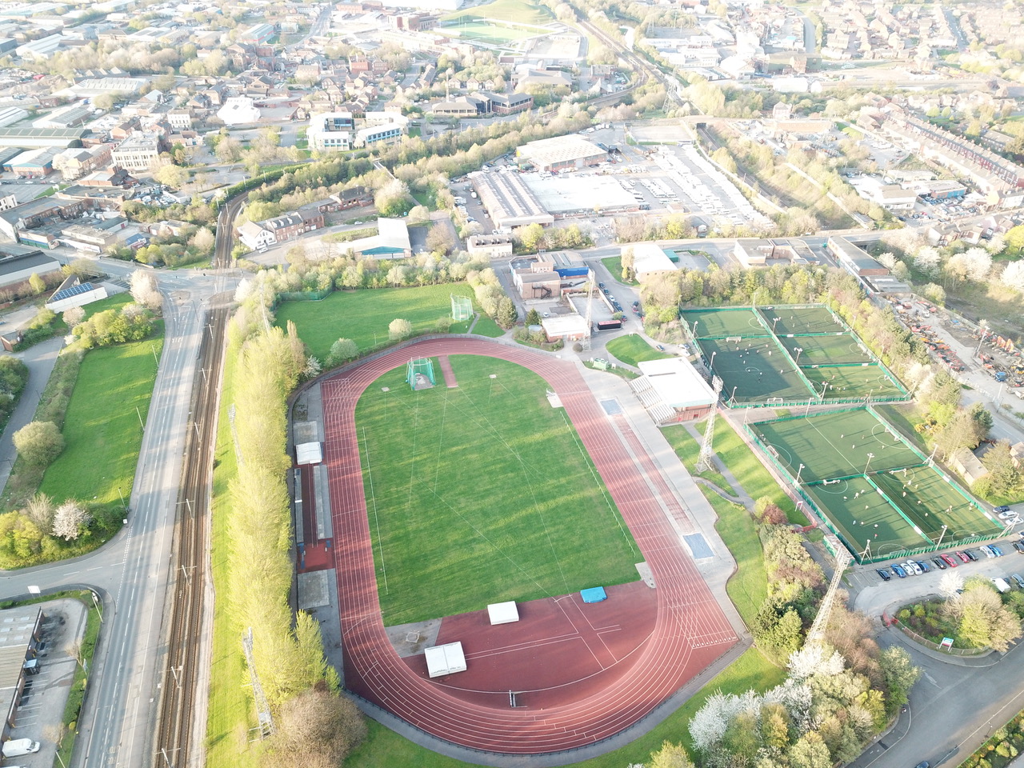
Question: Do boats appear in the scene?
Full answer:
No, there isn't any boat down there.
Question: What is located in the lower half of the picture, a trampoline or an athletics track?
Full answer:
What appears in the lower half of the picture is an athletics track.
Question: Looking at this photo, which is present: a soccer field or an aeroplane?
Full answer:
The image shows a soccer field.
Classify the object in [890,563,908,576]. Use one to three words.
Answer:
vehicle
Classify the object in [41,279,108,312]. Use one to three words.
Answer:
building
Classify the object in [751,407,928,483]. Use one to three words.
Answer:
soccer field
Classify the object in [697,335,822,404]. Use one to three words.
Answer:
soccer field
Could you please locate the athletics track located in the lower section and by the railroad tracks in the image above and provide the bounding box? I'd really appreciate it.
[319,336,743,753]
